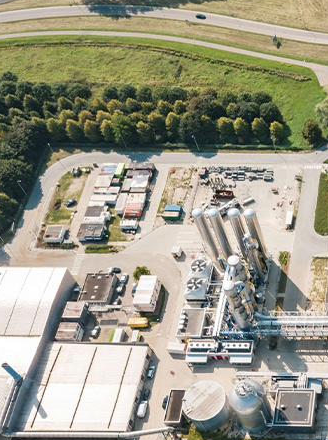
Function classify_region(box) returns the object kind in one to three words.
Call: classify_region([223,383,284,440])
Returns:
silo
